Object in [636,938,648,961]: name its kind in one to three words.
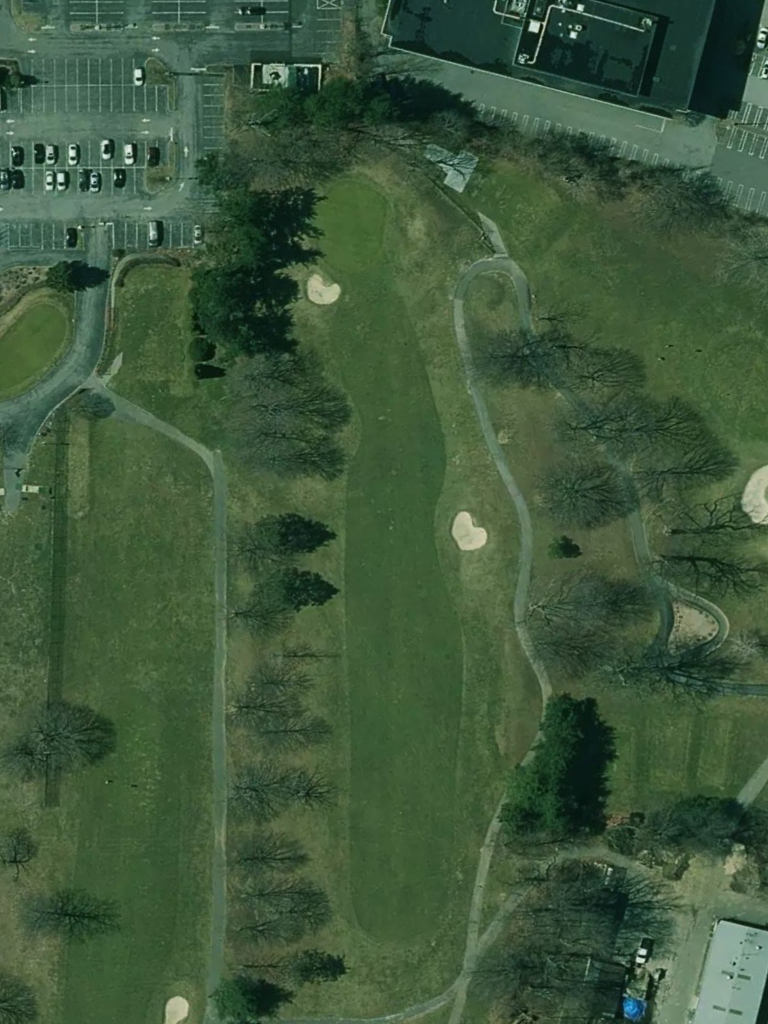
vehicle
